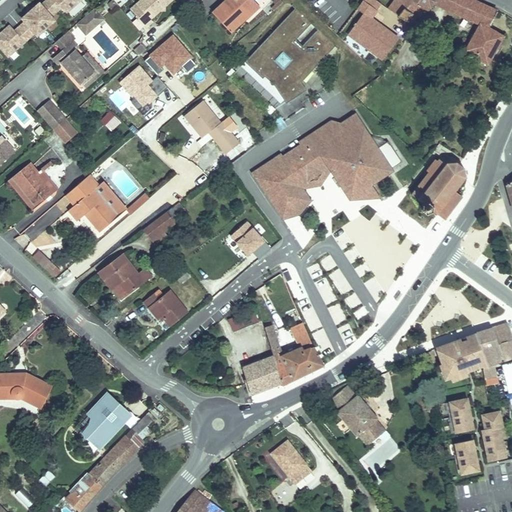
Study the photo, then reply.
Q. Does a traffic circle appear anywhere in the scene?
Yes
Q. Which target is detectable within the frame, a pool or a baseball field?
pool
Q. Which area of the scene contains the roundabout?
bottom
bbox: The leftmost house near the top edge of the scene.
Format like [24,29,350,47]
[0,1,56,58]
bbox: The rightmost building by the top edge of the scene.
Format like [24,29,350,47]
[468,22,506,64]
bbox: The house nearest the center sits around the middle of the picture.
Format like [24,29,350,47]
[231,220,266,258]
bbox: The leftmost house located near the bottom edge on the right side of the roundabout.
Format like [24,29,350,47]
[263,439,312,487]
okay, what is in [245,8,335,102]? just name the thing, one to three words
building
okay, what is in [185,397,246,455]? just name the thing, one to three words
roundabout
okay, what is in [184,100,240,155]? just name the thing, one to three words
house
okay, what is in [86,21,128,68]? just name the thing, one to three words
swimming pool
